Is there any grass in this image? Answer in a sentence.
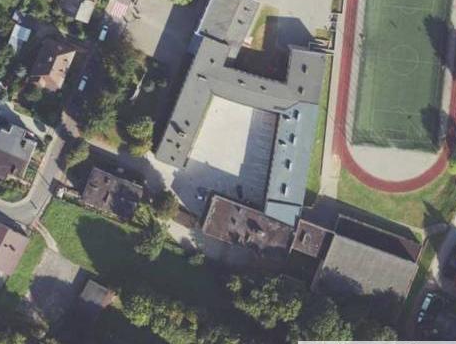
Yes, some grass is visible.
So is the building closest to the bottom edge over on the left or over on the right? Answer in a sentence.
The building closest to the bottom edge appears in the left half of the scene.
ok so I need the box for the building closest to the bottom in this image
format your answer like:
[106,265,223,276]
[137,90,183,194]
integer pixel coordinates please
[81,280,107,305]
